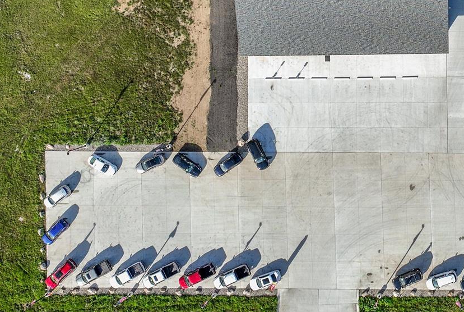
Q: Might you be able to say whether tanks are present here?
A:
No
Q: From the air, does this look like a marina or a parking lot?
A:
parking lot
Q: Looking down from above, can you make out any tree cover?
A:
No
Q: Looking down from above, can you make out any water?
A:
No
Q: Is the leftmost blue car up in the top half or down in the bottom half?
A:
bottom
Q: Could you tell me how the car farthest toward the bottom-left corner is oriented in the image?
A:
diagonally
